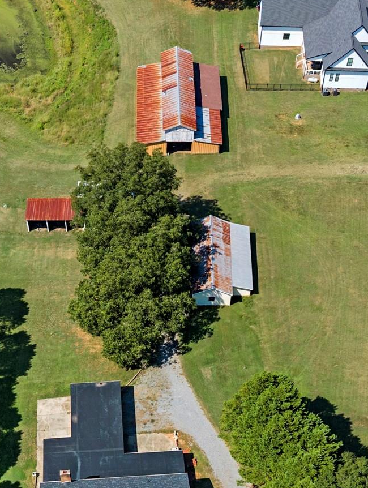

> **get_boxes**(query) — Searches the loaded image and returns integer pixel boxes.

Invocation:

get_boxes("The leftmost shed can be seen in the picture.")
[25,197,84,231]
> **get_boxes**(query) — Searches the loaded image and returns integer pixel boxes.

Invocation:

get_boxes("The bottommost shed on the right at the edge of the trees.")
[190,215,255,307]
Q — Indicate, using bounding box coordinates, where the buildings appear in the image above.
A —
[257,0,368,89]
[25,197,84,231]
[190,215,255,307]
[37,380,190,488]
[136,46,223,155]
